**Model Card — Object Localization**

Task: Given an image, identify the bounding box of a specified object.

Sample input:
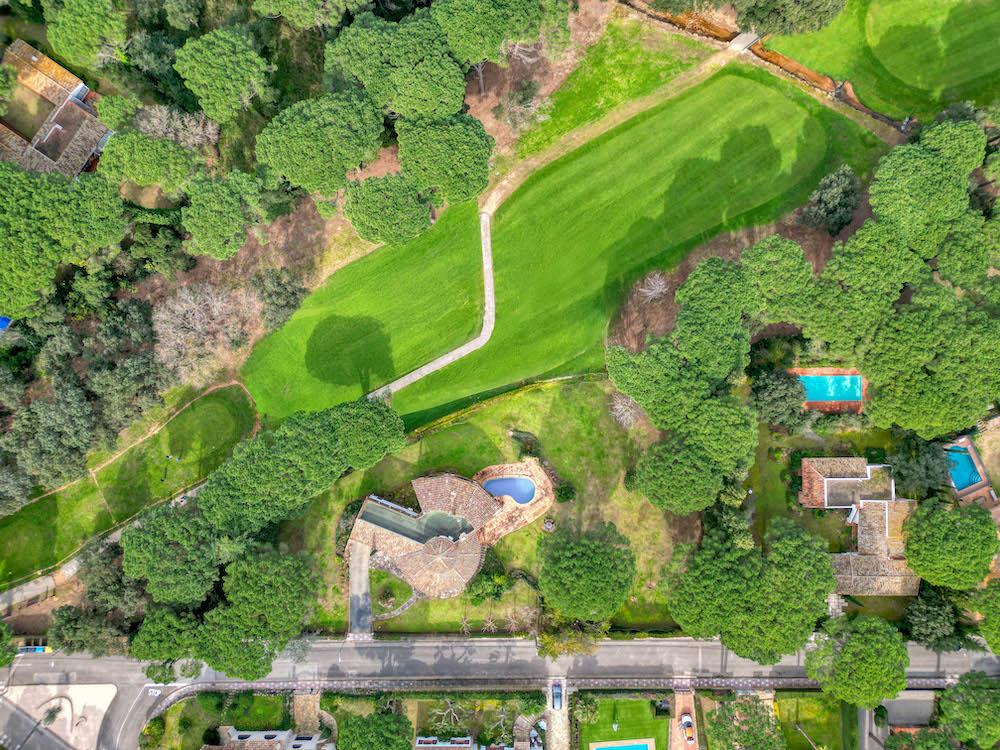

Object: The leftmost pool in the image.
[479,474,538,506]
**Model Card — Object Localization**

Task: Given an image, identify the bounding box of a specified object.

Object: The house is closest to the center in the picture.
[346,473,504,599]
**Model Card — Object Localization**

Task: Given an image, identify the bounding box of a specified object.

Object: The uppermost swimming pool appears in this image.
[787,367,870,413]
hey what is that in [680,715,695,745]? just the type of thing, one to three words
car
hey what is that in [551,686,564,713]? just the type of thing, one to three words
vehicle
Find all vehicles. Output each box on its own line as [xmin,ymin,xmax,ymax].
[680,715,695,745]
[551,686,564,713]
